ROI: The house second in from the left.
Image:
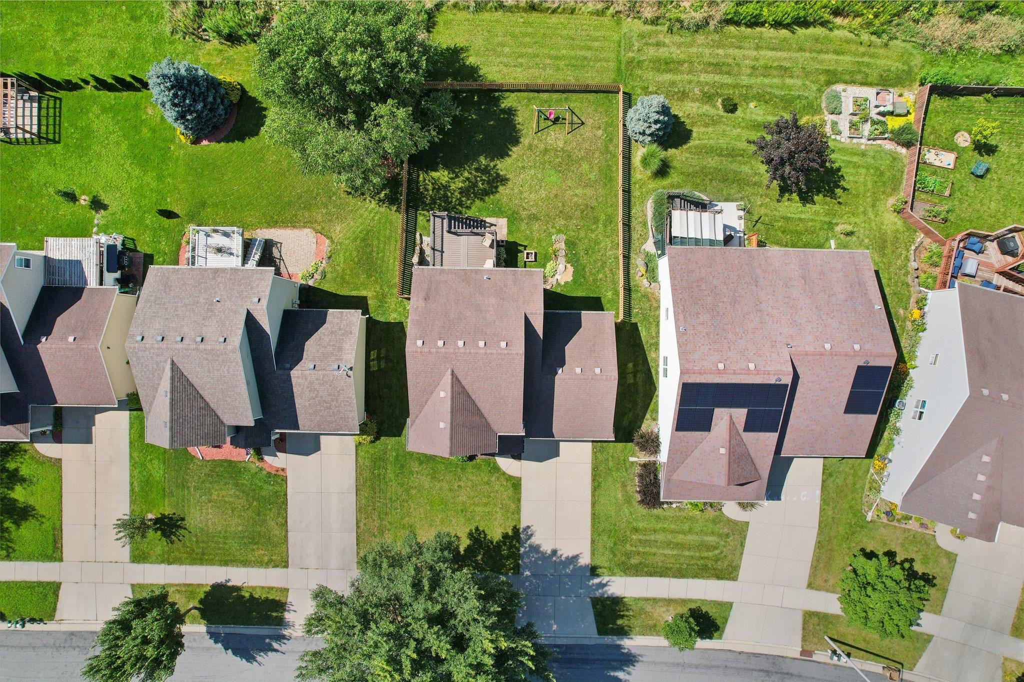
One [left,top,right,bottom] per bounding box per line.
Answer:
[124,265,368,461]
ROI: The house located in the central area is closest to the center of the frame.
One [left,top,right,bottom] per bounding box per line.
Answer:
[403,265,619,458]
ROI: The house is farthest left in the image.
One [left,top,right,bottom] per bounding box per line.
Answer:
[0,241,138,442]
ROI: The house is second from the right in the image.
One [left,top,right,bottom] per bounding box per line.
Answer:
[633,242,902,501]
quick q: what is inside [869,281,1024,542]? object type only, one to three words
house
